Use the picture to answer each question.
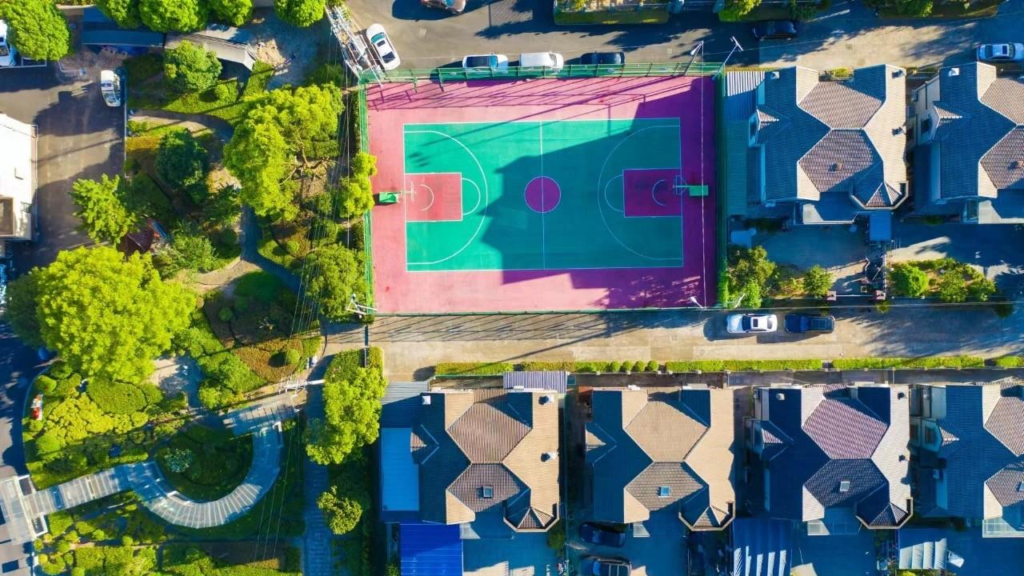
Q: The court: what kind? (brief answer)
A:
basketball court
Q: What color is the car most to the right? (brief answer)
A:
blue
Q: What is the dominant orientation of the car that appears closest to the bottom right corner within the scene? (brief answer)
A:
horizontally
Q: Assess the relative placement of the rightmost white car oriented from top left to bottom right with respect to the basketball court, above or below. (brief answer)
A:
above it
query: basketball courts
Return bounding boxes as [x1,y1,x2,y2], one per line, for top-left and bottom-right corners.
[367,75,720,315]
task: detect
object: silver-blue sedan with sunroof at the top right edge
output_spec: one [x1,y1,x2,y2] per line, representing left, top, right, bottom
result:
[972,40,1024,64]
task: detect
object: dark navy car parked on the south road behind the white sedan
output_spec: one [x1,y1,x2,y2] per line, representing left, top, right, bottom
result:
[782,311,834,335]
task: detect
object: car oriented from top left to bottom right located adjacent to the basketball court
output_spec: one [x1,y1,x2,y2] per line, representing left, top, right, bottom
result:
[366,23,403,74]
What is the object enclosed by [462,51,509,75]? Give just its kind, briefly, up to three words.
car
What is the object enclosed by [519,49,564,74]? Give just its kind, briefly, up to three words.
vehicle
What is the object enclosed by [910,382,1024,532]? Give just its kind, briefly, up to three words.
house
